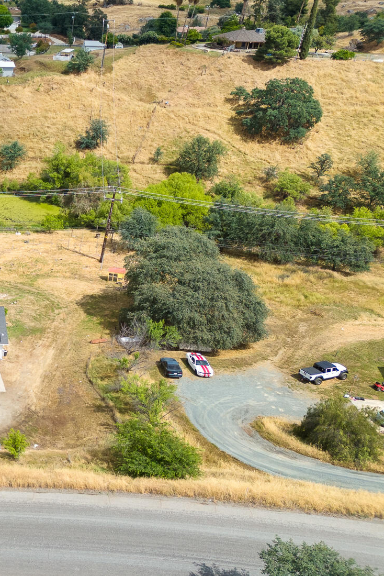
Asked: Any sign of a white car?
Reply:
Yes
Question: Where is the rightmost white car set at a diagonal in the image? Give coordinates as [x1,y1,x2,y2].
[182,350,218,379]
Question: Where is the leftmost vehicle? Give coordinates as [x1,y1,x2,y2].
[158,356,186,381]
